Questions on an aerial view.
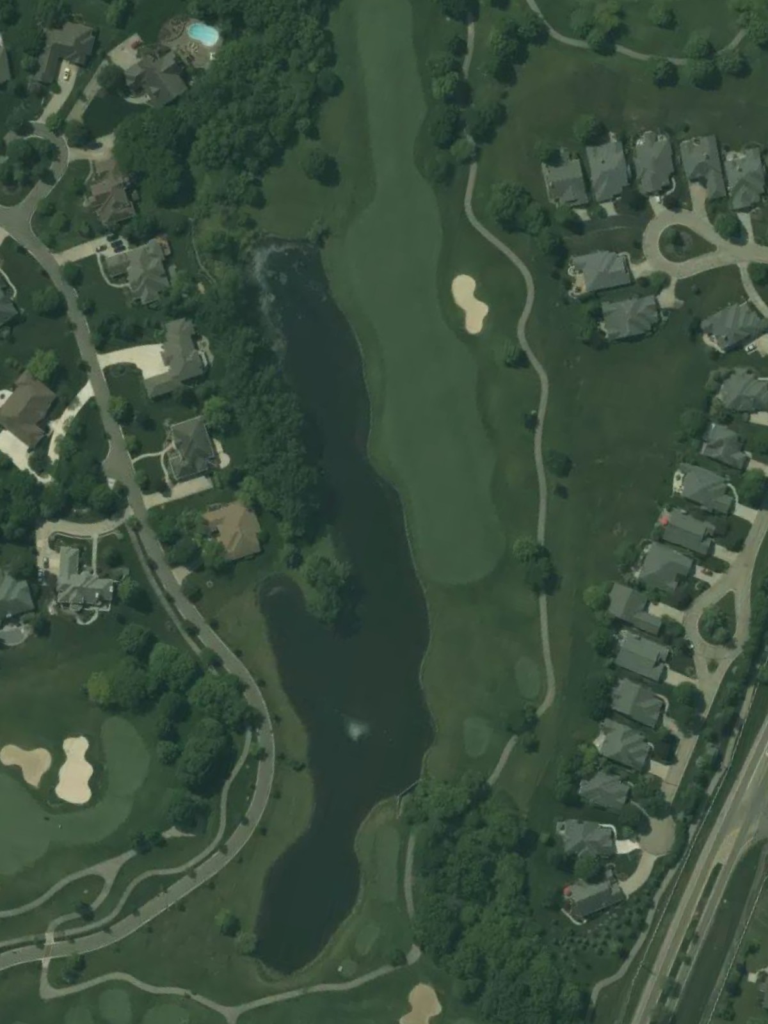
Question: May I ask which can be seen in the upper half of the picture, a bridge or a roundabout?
roundabout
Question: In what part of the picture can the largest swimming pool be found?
top left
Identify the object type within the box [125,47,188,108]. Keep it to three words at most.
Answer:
house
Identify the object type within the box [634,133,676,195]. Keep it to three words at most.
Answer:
house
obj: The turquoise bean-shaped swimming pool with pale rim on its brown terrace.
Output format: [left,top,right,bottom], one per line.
[186,22,221,47]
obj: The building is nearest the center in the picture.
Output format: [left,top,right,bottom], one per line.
[202,501,266,563]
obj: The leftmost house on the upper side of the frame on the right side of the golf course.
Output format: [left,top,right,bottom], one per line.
[546,161,589,208]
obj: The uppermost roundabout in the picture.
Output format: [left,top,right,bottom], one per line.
[642,209,768,280]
